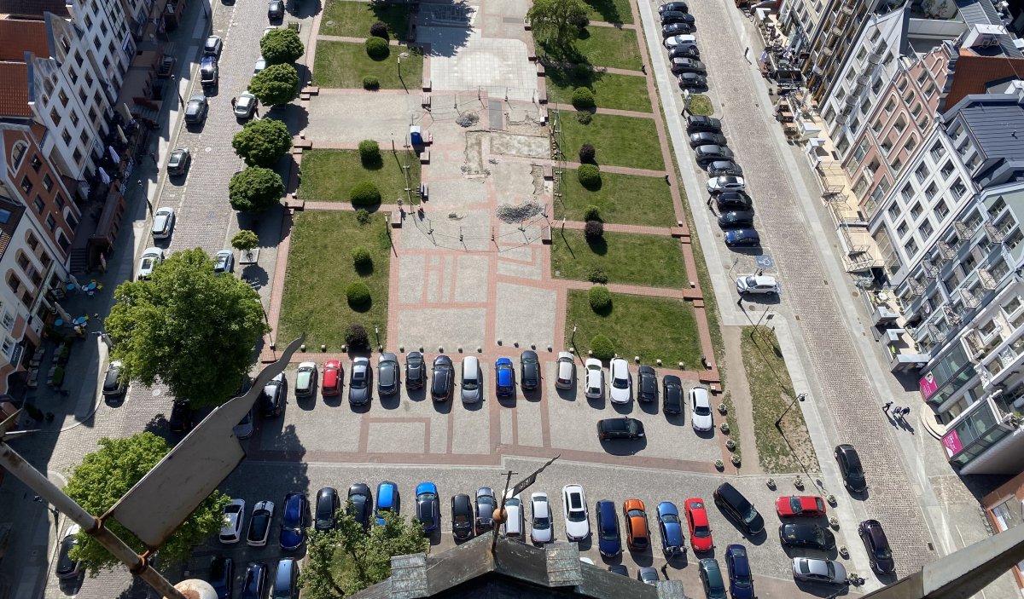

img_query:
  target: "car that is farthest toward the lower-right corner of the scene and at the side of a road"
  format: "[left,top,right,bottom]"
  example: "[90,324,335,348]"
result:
[858,520,896,575]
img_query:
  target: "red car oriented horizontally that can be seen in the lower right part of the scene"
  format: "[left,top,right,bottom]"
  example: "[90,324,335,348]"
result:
[774,493,828,519]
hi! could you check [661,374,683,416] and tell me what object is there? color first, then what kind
black car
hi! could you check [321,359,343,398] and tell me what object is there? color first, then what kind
red car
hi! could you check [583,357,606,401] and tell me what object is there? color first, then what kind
white car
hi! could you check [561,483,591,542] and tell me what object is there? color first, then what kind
white car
